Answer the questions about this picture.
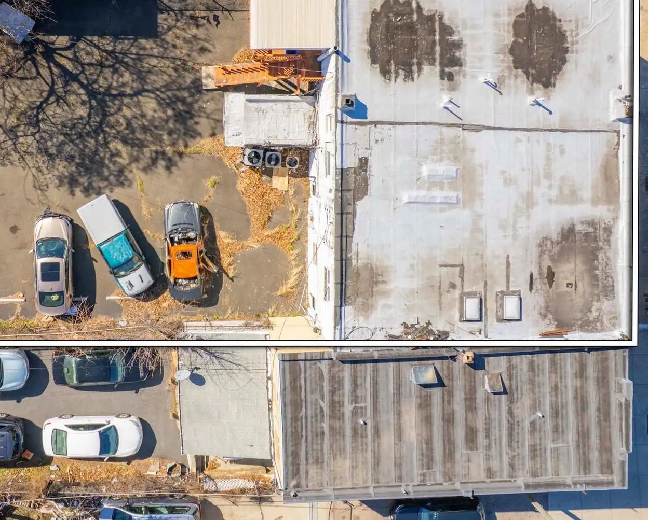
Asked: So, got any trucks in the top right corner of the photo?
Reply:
No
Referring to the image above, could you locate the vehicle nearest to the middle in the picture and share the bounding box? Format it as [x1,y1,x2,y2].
[161,199,218,299]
